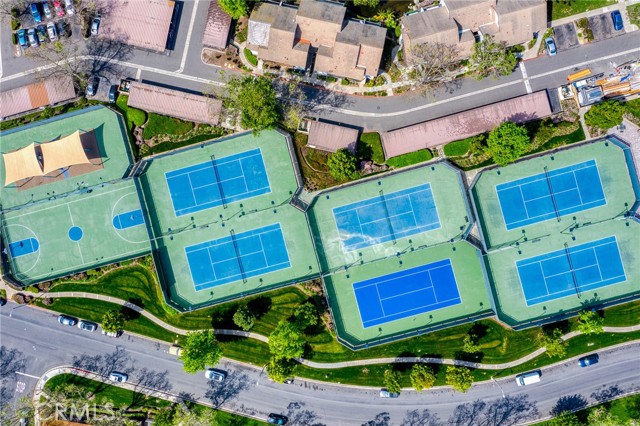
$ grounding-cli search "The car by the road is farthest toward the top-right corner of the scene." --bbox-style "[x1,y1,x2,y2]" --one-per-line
[609,8,624,32]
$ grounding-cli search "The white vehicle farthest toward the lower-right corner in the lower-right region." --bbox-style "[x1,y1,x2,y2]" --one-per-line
[517,372,541,385]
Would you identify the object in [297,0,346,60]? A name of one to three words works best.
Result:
house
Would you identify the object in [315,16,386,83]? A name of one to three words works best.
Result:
house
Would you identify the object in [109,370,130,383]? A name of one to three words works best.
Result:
vehicle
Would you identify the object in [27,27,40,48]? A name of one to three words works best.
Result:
vehicle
